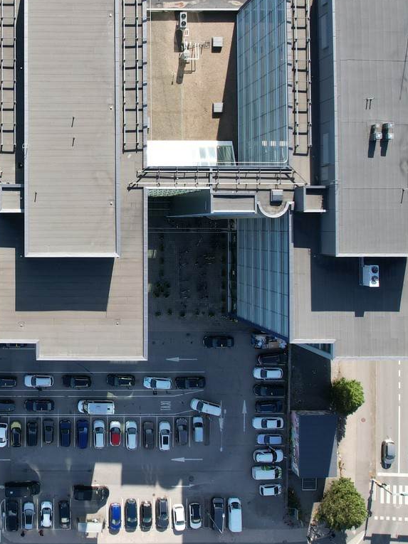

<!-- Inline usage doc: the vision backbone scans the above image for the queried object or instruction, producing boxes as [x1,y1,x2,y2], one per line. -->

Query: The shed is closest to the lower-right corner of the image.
[291,410,338,478]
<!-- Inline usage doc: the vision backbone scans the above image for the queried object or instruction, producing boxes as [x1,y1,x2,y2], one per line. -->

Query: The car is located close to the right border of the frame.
[379,437,396,467]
